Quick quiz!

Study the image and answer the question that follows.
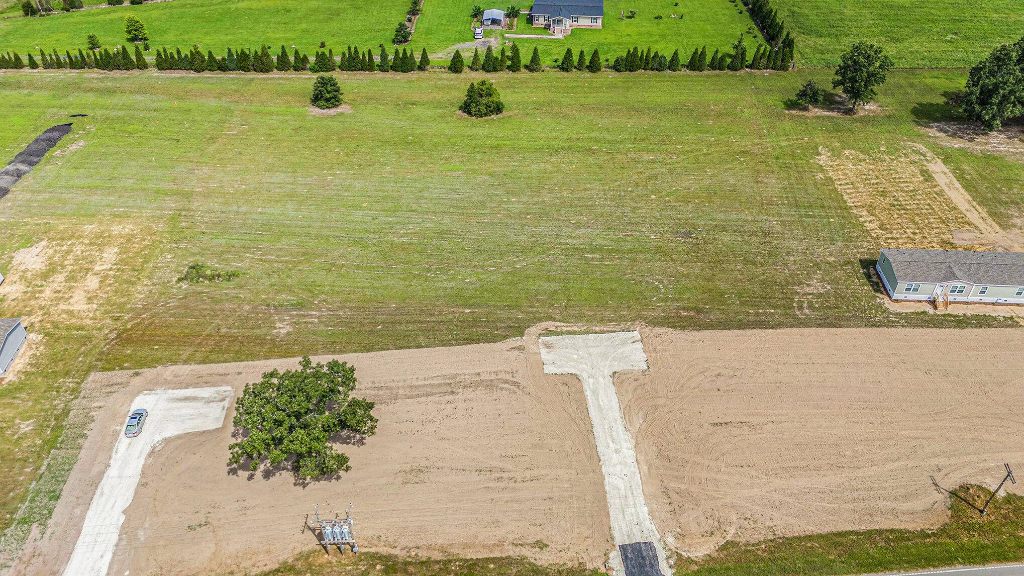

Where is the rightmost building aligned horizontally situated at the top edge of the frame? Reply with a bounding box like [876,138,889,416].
[532,1,604,32]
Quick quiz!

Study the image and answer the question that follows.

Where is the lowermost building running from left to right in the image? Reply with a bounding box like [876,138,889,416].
[874,249,1024,304]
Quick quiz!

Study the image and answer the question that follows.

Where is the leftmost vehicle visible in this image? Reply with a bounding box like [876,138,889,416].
[123,405,150,437]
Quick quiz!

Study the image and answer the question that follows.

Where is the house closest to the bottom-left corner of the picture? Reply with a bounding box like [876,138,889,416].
[0,315,30,375]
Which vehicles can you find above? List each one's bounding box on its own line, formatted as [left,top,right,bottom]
[485,19,492,26]
[123,405,150,437]
[474,29,482,37]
